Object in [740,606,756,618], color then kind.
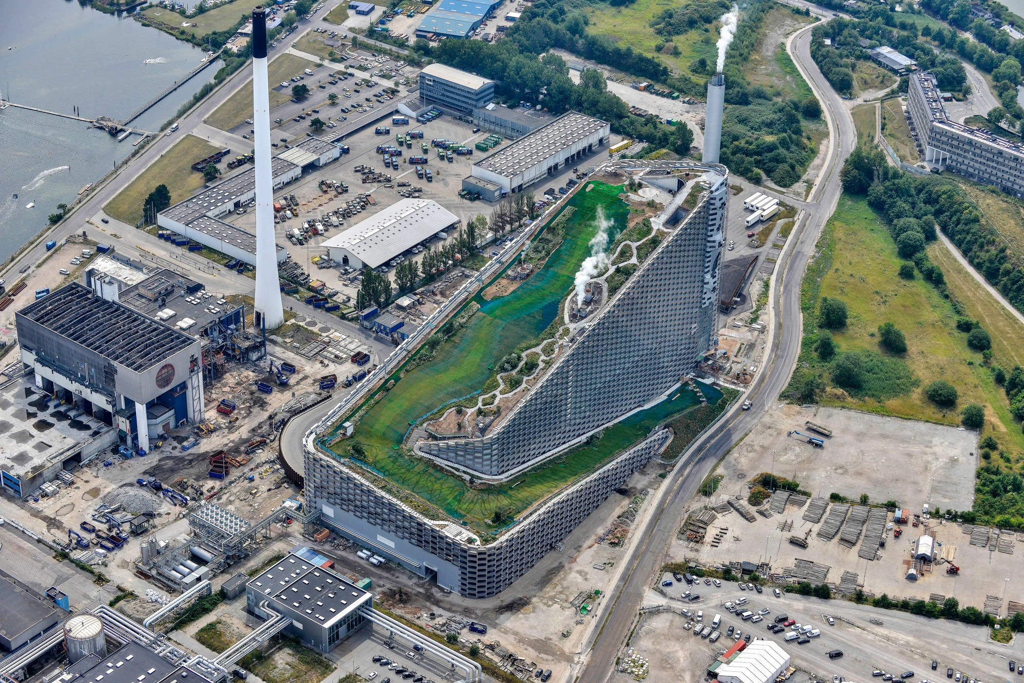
white vehicle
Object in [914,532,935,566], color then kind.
white tent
